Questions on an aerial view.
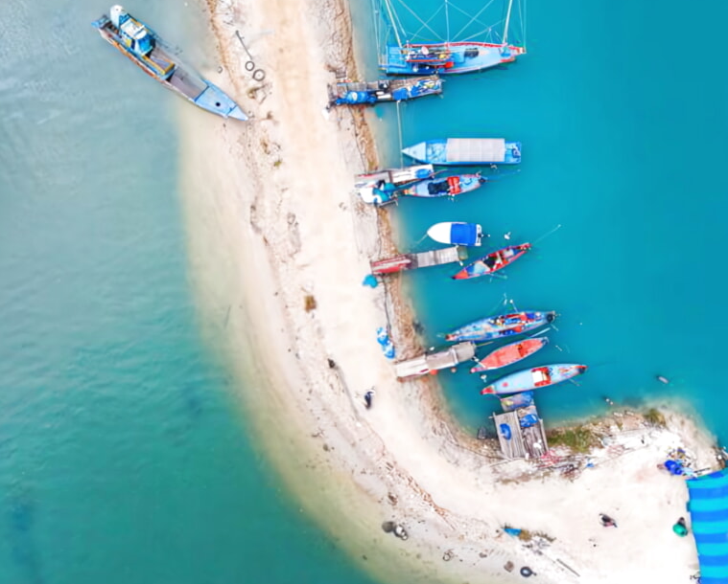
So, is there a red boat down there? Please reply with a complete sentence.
Yes, the photo shows a red boat.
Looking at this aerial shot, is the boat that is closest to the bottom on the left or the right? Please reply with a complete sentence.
The boat that is closest to the bottom appears in the right half of the scene.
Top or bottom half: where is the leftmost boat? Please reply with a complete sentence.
It is in the top half that the leftmost boat appears.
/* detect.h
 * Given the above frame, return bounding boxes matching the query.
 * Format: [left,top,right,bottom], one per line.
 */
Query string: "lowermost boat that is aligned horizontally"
[481,364,591,394]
